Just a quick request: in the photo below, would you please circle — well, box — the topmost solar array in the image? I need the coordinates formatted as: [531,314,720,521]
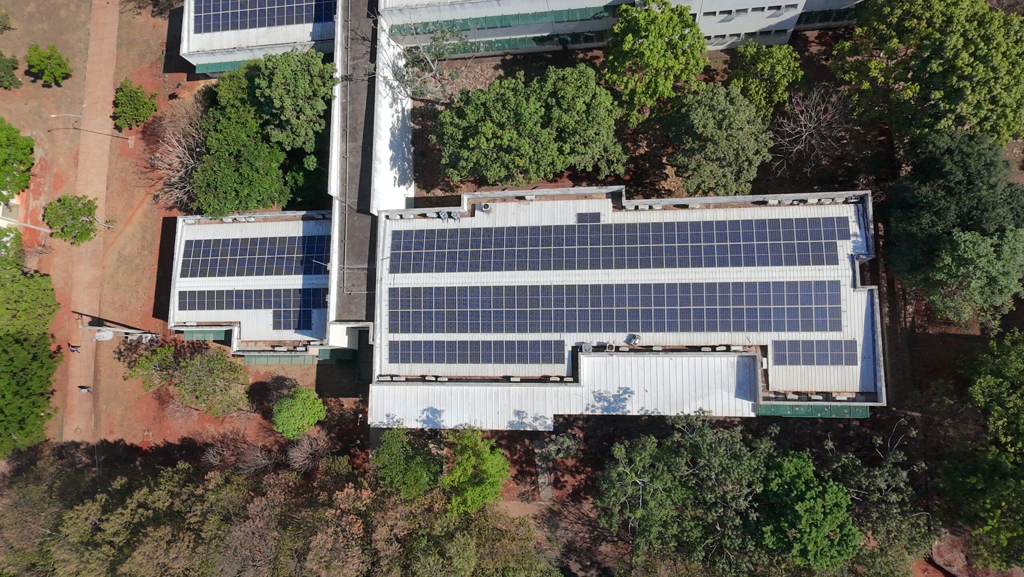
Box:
[192,0,337,34]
